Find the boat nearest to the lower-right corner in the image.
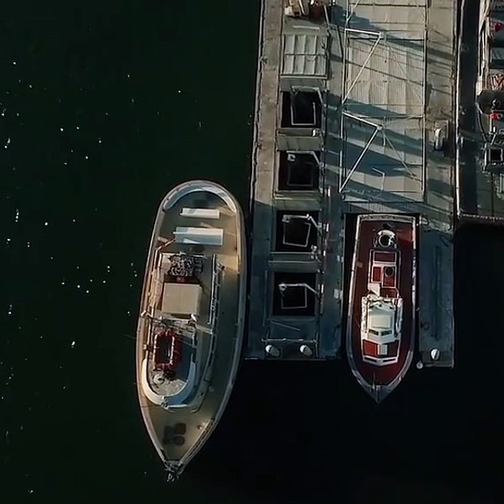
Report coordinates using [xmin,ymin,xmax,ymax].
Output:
[346,214,419,403]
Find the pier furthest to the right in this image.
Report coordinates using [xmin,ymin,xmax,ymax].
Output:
[419,0,456,367]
